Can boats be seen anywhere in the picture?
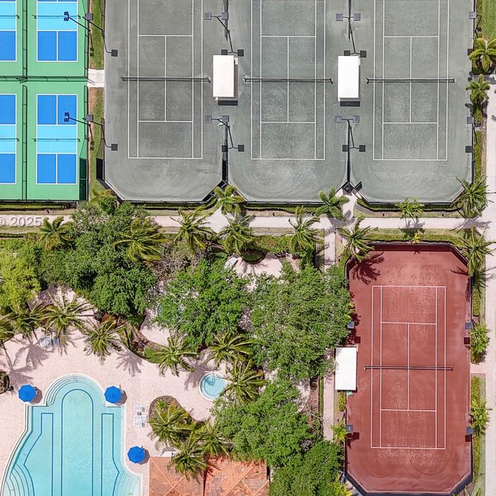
No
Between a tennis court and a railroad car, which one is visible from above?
tennis court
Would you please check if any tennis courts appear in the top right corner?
Yes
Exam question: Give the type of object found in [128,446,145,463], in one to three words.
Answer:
umbrella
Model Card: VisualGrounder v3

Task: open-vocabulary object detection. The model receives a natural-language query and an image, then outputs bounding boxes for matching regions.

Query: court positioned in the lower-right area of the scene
[346,243,472,493]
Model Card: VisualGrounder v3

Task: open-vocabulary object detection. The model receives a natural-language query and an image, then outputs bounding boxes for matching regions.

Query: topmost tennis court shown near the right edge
[350,0,475,203]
